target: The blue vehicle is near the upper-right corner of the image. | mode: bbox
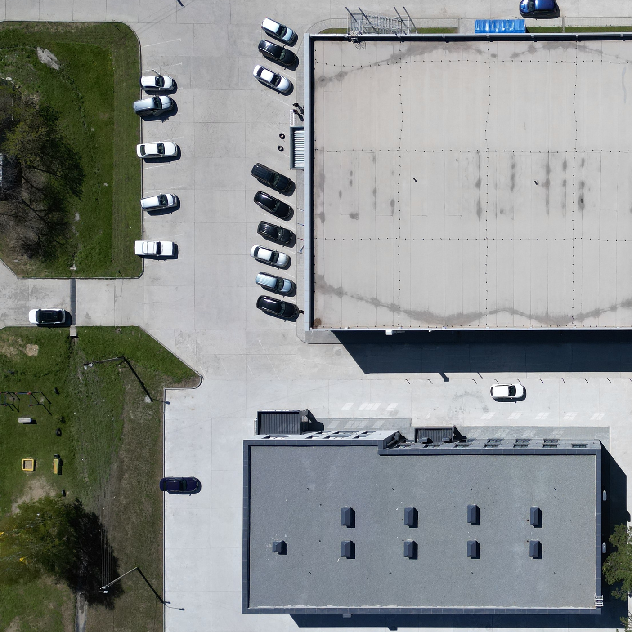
[520,0,558,16]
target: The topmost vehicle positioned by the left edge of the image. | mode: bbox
[27,306,67,326]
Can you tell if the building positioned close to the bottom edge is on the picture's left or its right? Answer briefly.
right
